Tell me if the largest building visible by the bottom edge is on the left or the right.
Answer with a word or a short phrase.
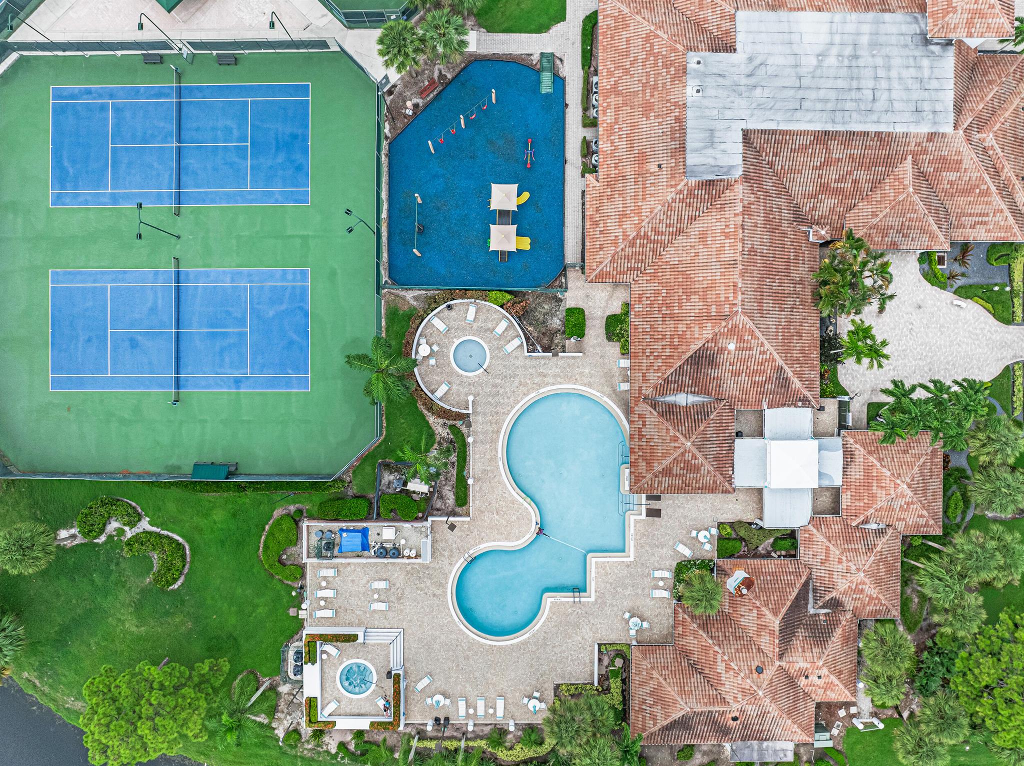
right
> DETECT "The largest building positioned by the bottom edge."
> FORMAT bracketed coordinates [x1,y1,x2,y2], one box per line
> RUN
[630,515,903,746]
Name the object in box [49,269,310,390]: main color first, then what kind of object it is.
blue tennis court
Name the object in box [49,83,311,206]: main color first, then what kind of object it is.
blue tennis court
